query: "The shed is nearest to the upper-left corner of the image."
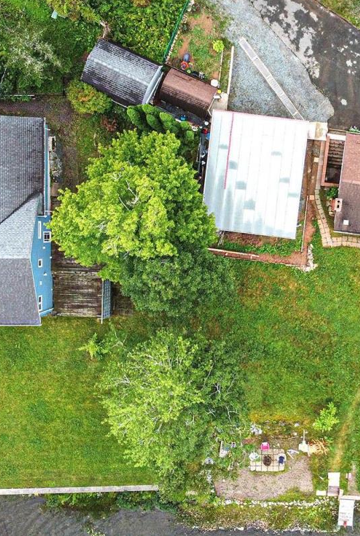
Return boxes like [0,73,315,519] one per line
[80,38,164,106]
